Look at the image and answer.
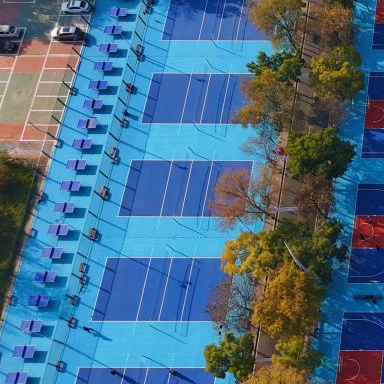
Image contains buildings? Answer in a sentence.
No, the picture doesn't show any building.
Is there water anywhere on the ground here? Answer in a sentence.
No, water can't be seen anywhere here.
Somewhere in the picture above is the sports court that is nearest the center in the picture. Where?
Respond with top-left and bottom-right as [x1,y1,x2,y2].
[118,149,251,228]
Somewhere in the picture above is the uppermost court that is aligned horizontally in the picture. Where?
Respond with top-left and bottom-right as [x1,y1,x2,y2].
[162,0,277,49]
